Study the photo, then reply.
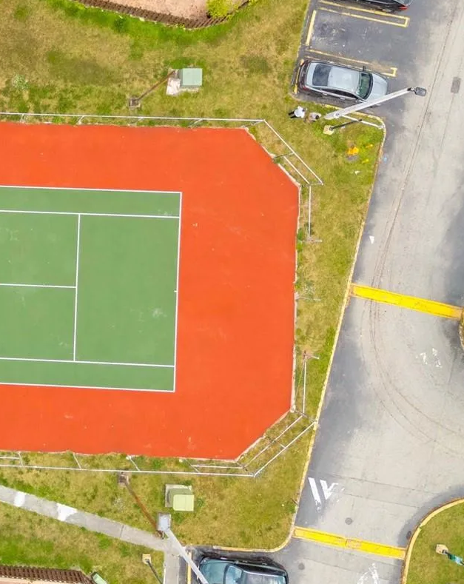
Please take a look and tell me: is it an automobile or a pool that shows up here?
automobile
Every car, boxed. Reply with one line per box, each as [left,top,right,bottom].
[294,58,386,103]
[194,555,287,584]
[327,0,413,13]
